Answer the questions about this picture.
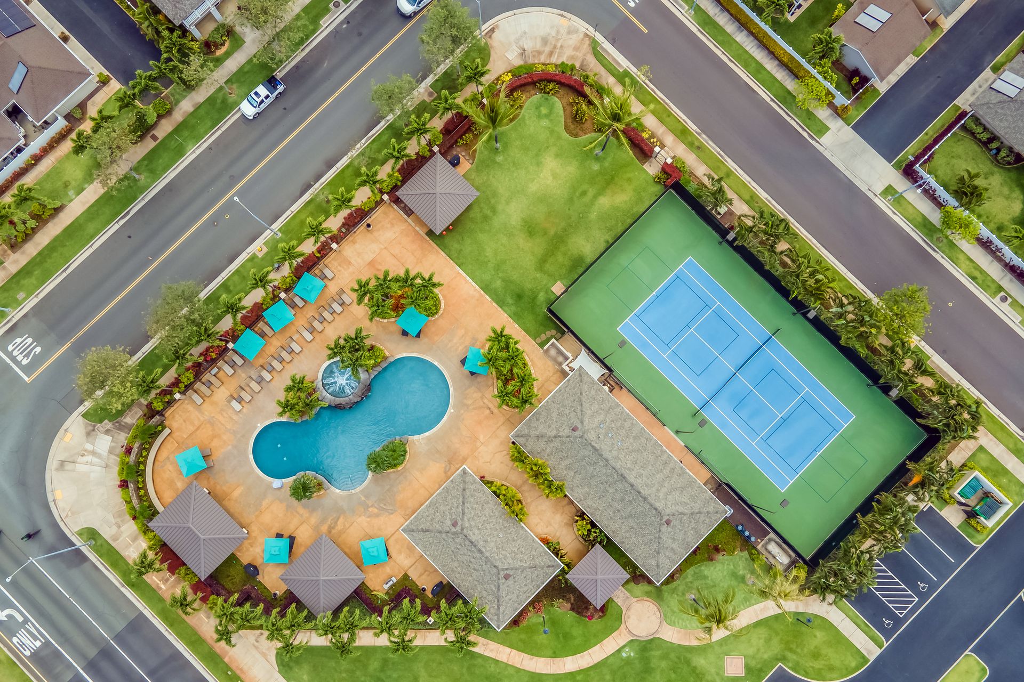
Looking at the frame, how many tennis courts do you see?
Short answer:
1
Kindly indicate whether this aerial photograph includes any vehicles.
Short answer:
Yes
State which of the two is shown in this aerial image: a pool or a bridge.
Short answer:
pool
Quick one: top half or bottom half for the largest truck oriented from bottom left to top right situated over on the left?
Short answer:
top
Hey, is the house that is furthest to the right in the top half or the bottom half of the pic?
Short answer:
top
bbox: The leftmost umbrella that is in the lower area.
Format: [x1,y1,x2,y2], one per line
[177,445,209,478]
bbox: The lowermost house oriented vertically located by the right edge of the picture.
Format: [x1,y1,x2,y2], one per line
[961,49,1024,181]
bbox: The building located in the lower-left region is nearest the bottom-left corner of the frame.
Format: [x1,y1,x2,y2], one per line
[148,480,252,581]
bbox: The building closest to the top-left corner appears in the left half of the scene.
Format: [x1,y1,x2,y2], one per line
[0,0,105,170]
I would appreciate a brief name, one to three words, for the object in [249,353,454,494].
swimming pool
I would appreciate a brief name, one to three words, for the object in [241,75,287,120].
truck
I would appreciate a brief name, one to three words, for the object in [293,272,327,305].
umbrella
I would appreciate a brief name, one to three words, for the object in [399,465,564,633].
building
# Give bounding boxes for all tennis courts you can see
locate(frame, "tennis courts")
[551,189,927,557]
